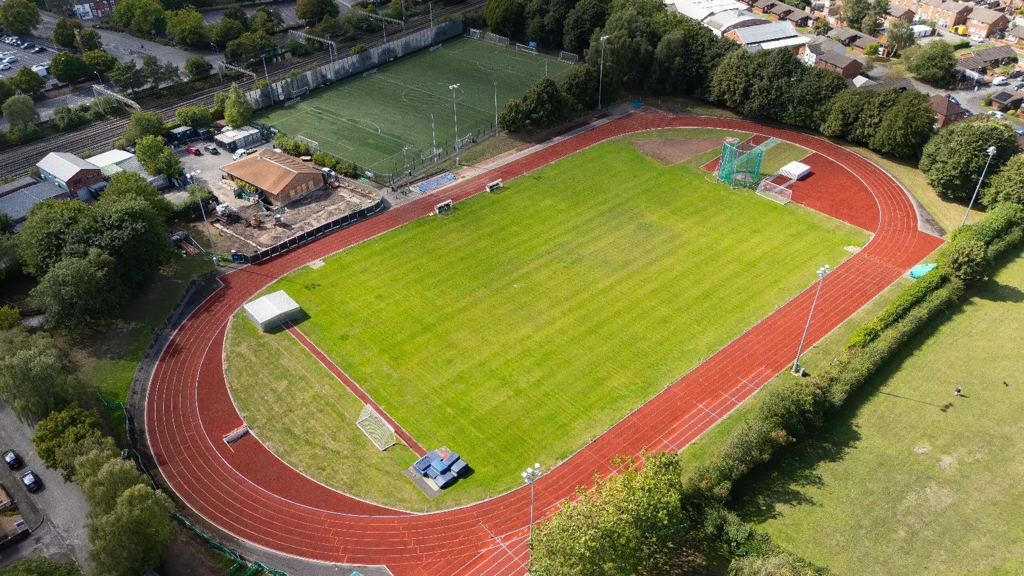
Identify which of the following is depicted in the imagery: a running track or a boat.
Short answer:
running track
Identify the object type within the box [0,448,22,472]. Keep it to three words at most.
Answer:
car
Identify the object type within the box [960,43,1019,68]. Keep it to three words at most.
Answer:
house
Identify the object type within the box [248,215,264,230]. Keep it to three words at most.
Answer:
vehicle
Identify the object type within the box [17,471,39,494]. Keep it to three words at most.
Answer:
car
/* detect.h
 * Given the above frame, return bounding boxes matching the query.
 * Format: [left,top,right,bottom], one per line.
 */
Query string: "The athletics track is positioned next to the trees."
[146,116,917,565]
